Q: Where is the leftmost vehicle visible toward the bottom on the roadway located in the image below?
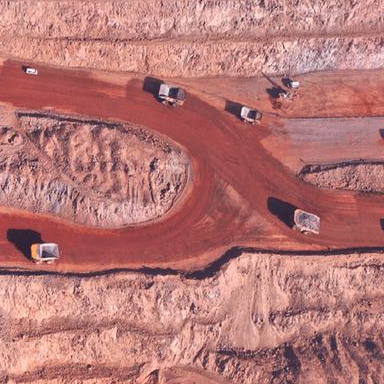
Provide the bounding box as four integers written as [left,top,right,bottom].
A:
[31,243,60,263]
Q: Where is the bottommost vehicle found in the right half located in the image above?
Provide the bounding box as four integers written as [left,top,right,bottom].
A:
[293,214,324,235]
